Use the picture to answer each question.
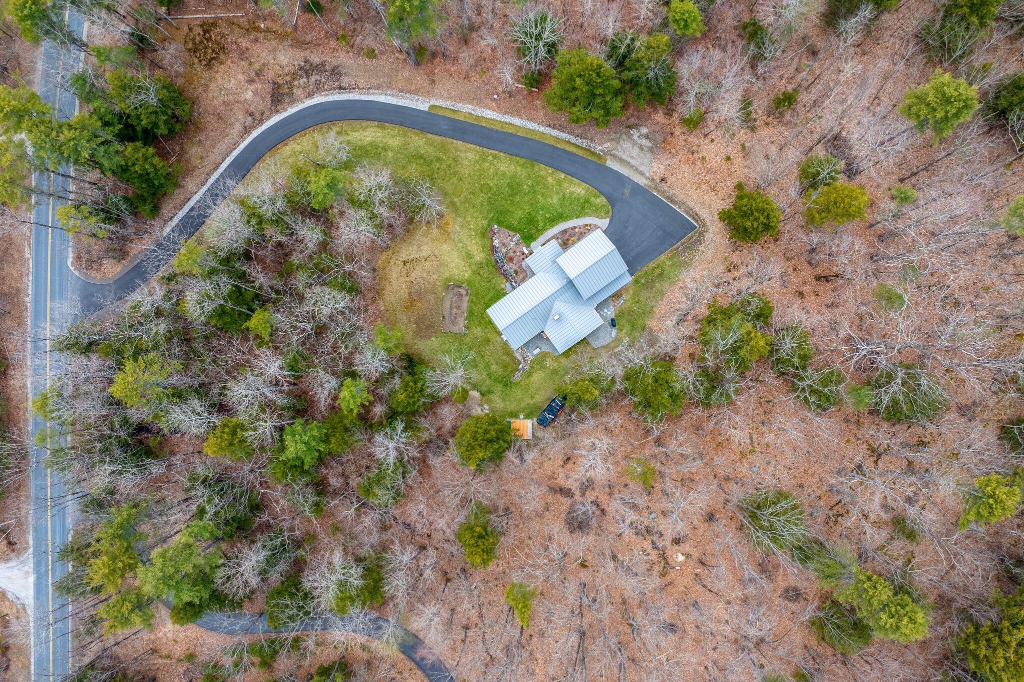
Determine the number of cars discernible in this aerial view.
zero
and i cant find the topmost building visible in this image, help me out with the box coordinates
[487,228,632,353]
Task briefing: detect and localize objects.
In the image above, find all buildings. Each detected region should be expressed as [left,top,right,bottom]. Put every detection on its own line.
[487,228,632,353]
[508,419,532,440]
